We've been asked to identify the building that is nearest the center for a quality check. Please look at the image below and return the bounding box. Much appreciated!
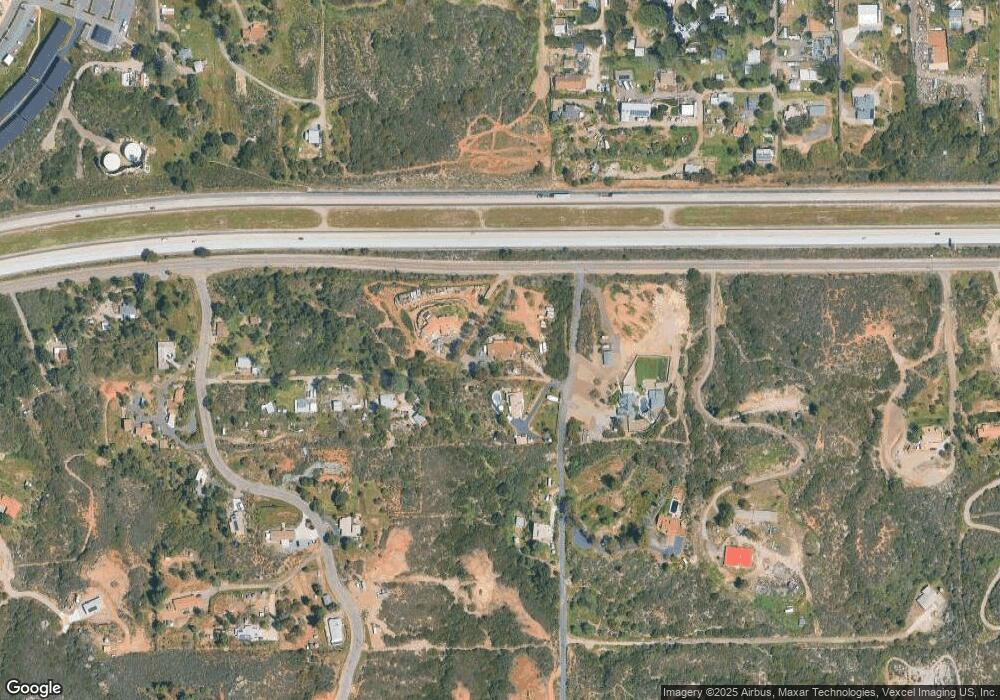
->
[485,337,524,358]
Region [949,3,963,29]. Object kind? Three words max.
house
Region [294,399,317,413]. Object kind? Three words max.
house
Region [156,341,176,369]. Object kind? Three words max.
building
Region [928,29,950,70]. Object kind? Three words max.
building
